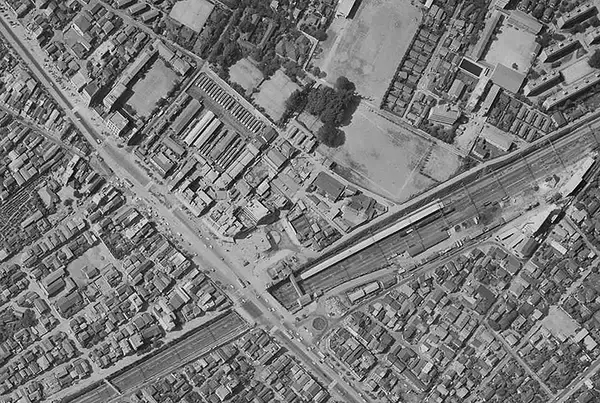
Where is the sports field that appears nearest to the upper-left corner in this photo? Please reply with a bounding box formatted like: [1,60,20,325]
[169,0,214,32]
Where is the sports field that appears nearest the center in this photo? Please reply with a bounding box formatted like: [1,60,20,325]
[320,103,435,200]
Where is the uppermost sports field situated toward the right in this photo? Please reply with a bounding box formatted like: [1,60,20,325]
[311,0,423,99]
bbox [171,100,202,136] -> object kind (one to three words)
building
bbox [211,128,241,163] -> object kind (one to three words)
building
